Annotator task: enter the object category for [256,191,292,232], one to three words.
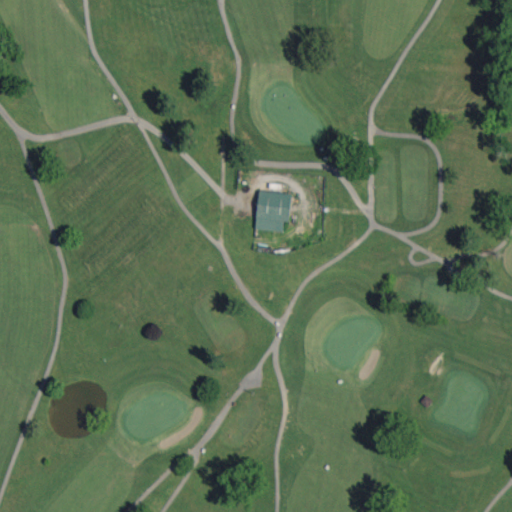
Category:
barn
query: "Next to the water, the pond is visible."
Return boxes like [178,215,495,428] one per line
[49,380,108,438]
